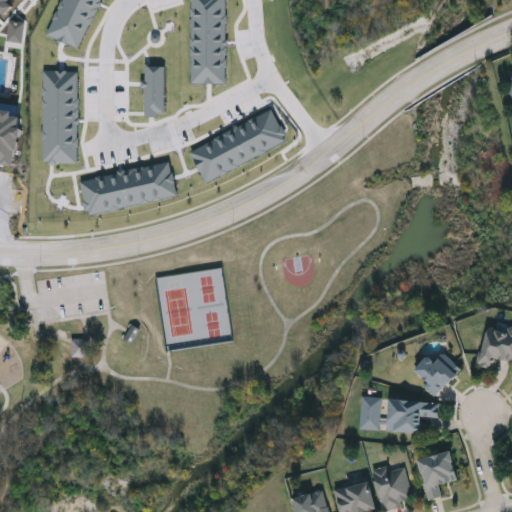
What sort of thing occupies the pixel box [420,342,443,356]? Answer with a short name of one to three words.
swimming pool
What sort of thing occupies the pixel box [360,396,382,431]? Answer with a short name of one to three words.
building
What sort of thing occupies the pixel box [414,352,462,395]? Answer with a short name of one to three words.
house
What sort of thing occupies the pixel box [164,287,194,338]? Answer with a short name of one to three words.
tennis court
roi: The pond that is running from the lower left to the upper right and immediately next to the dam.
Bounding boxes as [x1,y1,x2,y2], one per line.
[370,188,448,286]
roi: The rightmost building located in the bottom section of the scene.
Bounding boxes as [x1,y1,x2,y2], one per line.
[476,325,512,368]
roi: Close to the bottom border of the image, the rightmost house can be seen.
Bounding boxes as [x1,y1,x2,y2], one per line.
[418,451,458,502]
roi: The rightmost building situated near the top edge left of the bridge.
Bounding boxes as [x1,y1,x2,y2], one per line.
[190,0,227,86]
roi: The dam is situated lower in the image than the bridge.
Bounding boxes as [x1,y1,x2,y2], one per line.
[412,172,460,188]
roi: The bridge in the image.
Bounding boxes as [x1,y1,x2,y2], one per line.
[404,14,496,112]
